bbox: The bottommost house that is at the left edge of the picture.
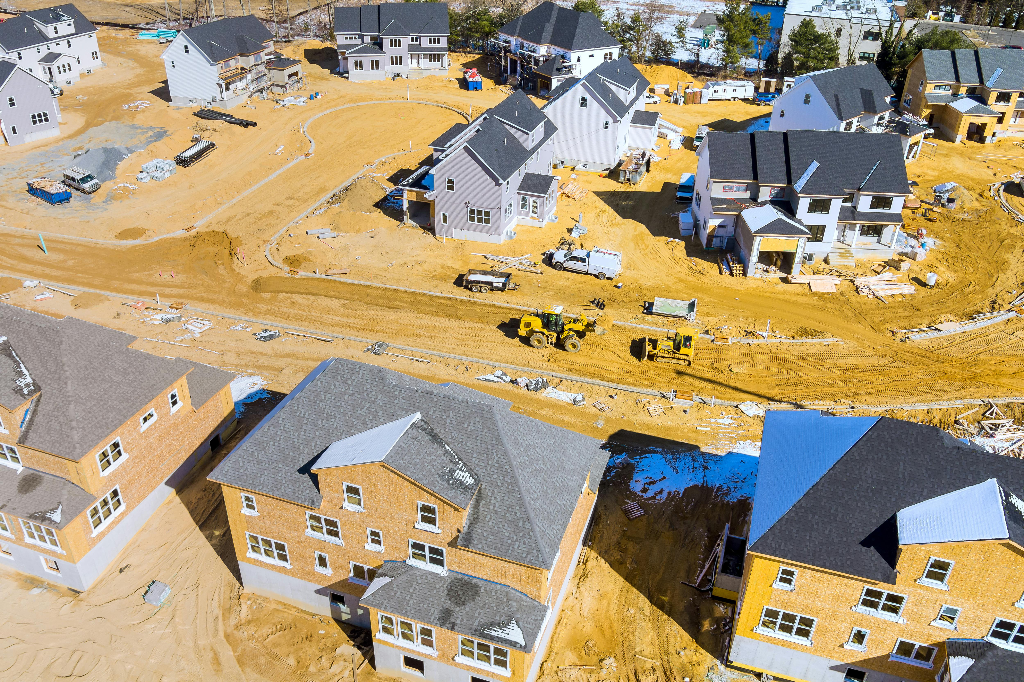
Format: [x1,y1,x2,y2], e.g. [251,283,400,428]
[0,297,240,589]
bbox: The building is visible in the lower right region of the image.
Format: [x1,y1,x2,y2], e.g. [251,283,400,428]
[707,411,1024,682]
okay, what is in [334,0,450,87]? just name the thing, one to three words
house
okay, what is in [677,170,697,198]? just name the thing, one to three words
vehicle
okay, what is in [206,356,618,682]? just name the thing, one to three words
house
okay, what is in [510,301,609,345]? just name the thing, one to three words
work vehicle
